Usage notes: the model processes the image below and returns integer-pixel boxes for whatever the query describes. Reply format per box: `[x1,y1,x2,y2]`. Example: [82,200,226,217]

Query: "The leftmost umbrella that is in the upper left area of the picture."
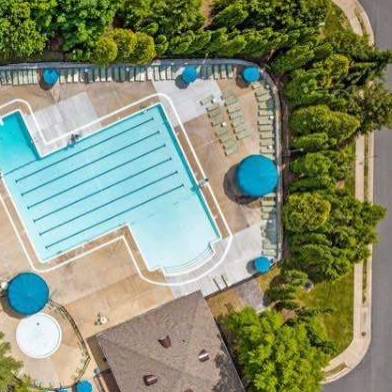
[41,68,58,85]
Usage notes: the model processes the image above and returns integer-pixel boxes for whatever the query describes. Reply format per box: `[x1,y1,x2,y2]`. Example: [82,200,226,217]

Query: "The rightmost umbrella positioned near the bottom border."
[74,378,92,392]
